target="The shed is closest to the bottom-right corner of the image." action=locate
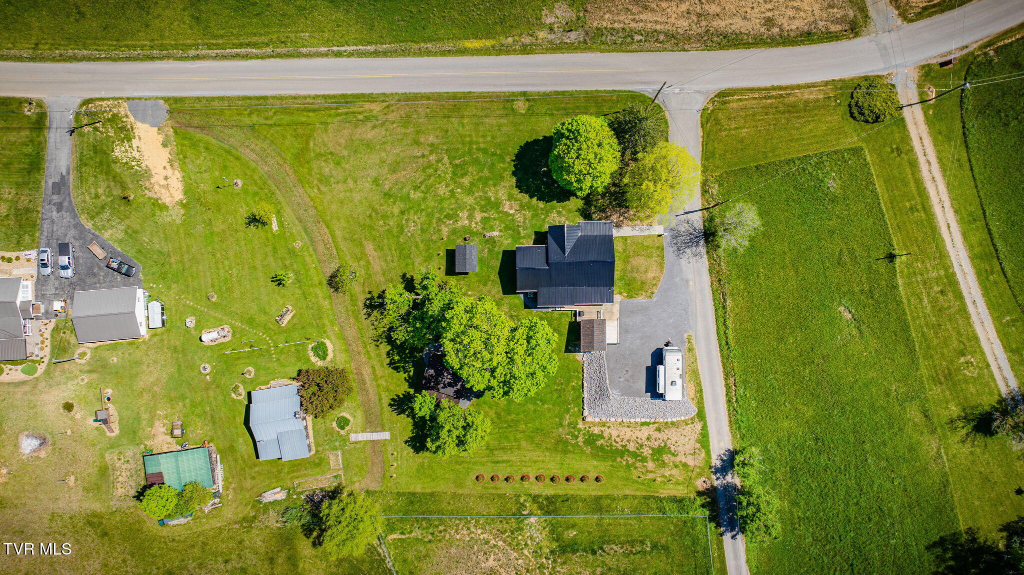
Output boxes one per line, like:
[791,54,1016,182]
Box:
[581,319,607,352]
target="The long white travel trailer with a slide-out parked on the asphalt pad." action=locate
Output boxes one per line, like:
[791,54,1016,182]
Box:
[657,339,682,400]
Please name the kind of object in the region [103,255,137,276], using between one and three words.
truck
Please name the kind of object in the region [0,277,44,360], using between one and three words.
house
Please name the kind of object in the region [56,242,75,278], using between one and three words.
vehicle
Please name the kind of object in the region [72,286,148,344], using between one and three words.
building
